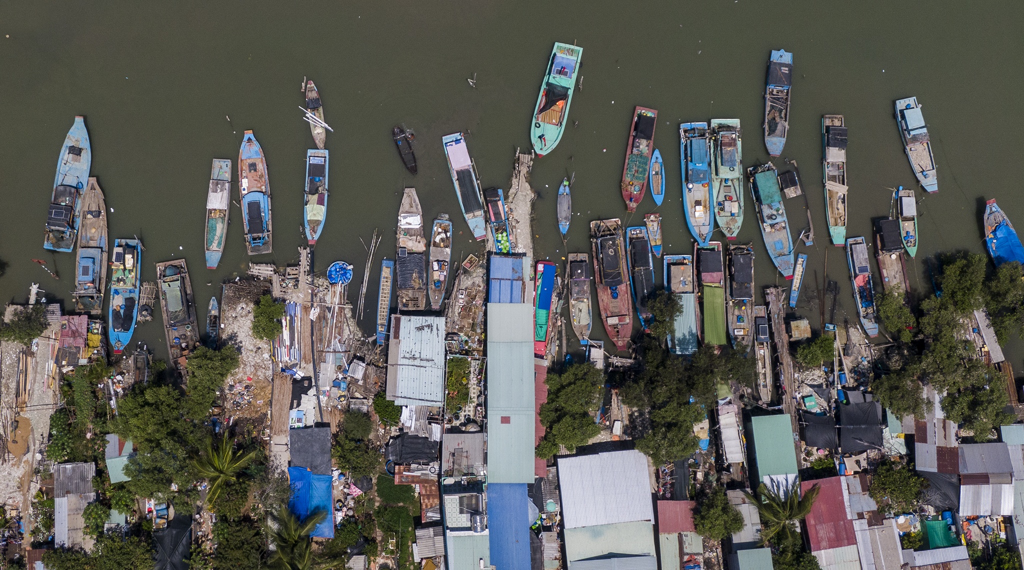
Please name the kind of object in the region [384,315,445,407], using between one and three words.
house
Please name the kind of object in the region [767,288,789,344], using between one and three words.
pier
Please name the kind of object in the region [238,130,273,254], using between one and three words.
boat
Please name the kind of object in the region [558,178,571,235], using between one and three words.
boat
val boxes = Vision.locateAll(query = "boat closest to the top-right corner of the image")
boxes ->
[892,97,938,195]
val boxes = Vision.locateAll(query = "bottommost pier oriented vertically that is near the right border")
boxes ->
[999,359,1019,404]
